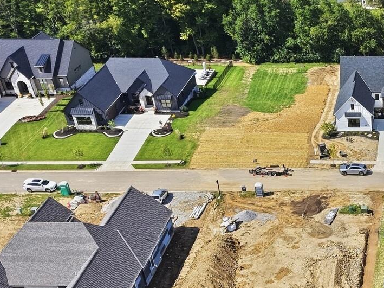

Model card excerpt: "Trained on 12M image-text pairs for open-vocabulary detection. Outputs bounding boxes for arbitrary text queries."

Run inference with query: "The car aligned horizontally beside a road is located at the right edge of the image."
[339,162,368,176]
